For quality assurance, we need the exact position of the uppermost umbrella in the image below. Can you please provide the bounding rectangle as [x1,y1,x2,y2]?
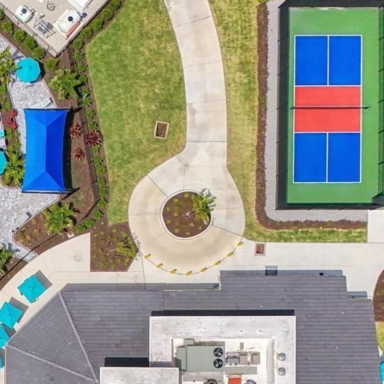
[15,59,40,84]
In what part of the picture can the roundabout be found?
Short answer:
center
